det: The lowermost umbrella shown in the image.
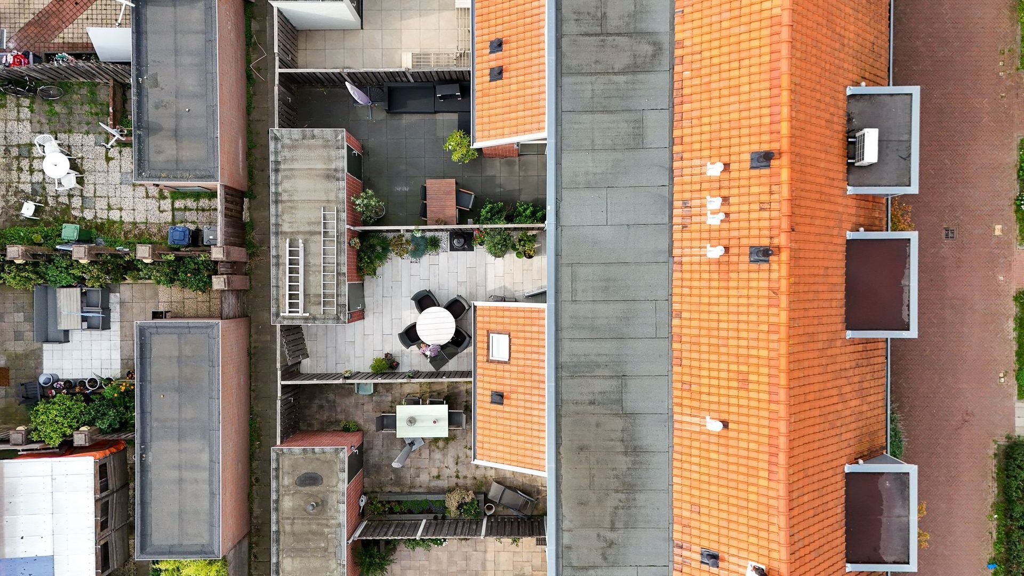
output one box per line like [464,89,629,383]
[392,437,425,467]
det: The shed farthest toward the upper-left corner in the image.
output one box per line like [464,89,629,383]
[132,0,247,191]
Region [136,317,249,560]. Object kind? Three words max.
shed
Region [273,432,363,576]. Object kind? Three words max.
shed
